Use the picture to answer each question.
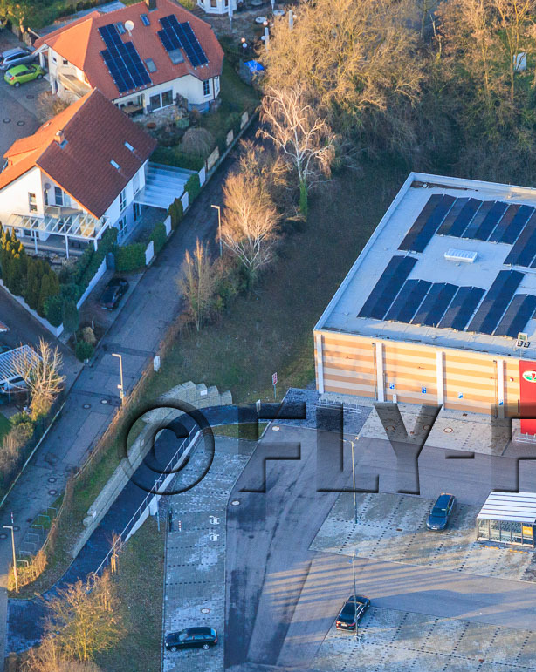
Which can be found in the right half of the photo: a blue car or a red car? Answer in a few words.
blue car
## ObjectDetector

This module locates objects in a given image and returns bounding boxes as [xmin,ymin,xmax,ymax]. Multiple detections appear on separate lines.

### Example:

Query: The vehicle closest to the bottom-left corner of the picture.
[160,625,222,653]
